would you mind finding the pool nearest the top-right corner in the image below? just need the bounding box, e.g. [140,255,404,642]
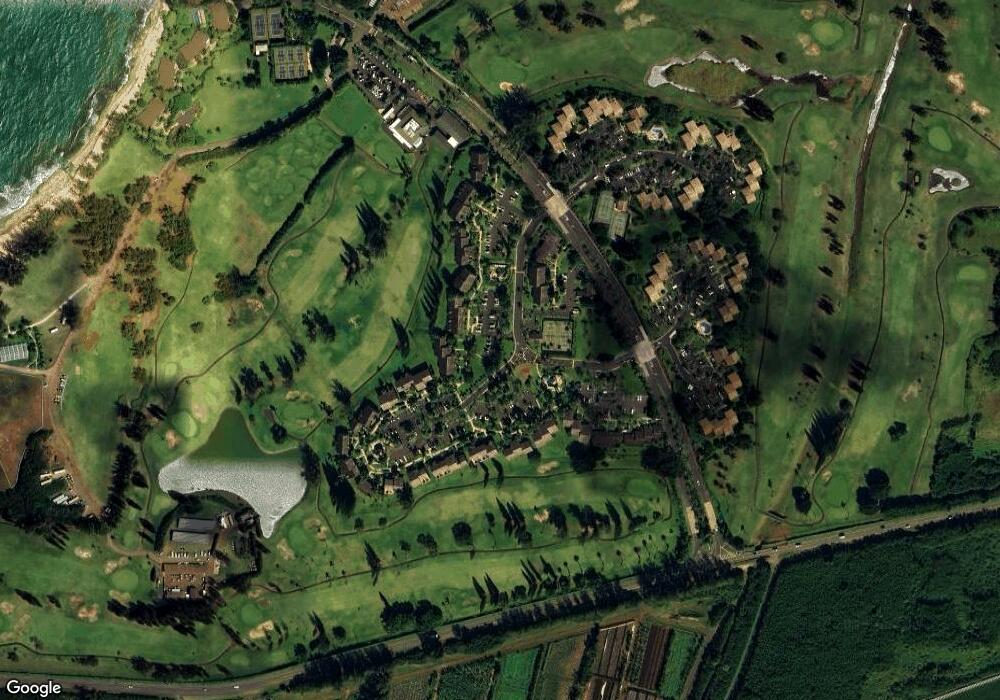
[647,124,665,139]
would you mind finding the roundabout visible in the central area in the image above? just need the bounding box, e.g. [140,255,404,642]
[512,346,539,383]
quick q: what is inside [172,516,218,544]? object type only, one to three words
building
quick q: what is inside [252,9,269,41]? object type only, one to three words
tennis court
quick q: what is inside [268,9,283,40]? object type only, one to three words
tennis court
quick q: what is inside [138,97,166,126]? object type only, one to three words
house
